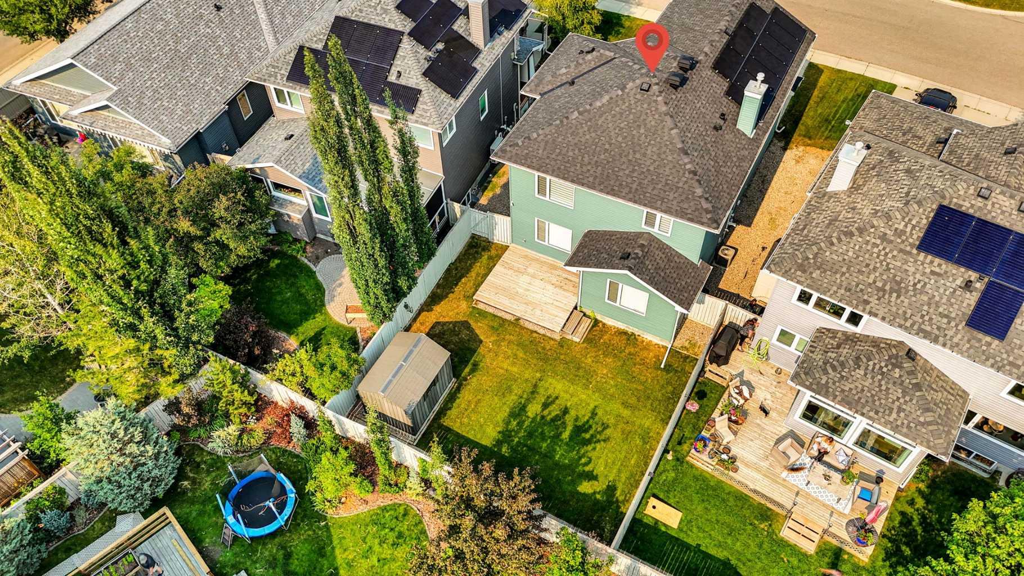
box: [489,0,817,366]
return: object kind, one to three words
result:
building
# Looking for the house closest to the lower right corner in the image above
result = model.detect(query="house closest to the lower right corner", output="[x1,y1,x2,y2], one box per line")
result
[750,91,1024,501]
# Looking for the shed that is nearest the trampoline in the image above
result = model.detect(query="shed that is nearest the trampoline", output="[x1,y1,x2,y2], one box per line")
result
[350,331,465,453]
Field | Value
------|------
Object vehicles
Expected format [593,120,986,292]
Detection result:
[920,88,963,118]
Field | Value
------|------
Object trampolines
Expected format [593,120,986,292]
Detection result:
[216,453,304,546]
